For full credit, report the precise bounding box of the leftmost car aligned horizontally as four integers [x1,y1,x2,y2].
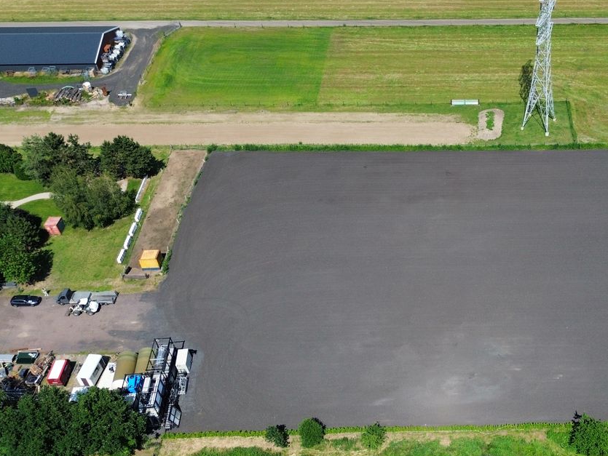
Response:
[8,290,43,305]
